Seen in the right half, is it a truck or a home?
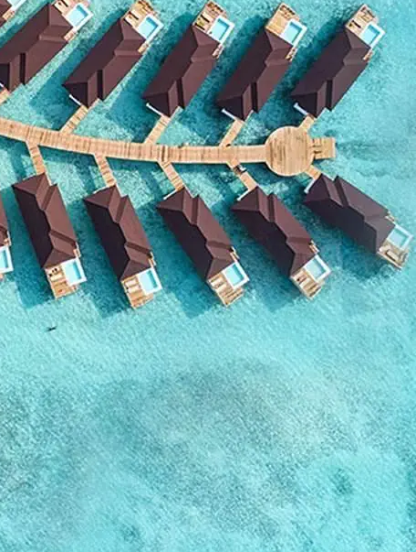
home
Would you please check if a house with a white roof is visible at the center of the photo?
No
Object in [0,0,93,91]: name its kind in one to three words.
house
